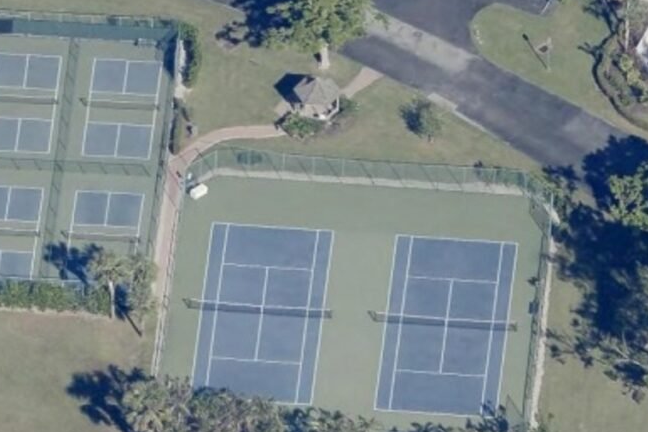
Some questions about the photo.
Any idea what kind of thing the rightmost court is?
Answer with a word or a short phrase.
tennis court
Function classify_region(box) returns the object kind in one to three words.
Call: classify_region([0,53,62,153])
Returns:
sports court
